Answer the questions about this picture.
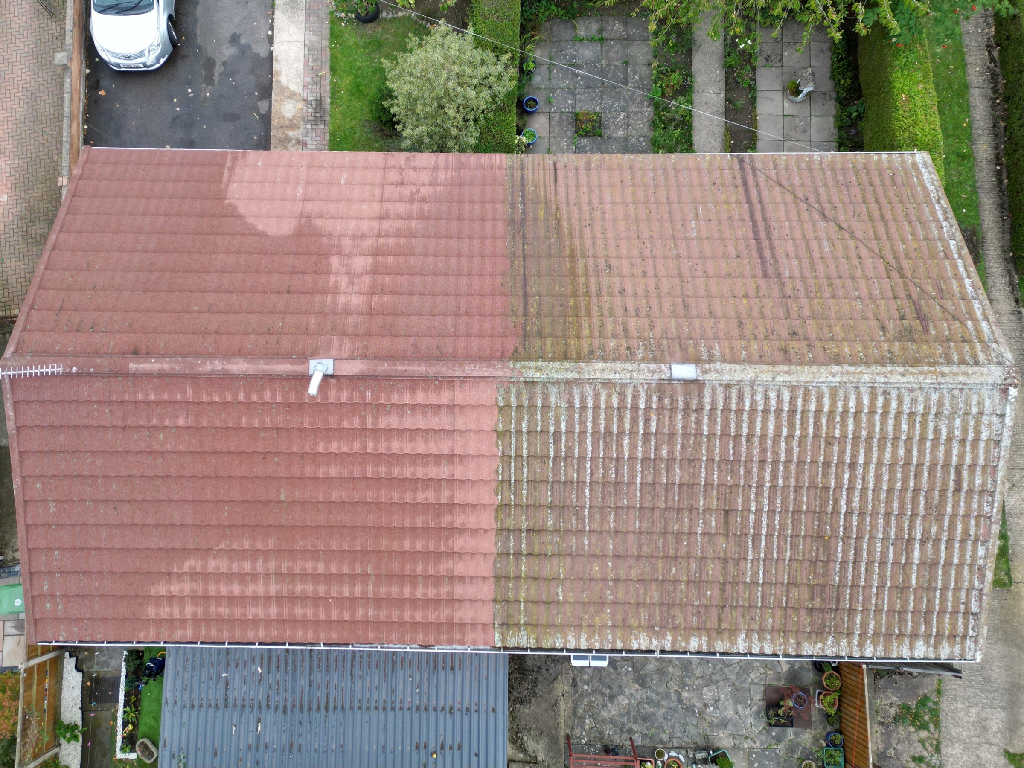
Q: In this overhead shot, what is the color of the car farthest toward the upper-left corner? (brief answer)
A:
white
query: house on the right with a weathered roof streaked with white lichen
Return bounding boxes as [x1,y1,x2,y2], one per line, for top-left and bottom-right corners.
[490,148,1021,668]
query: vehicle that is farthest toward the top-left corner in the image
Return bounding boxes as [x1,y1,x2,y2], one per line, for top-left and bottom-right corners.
[91,0,178,72]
